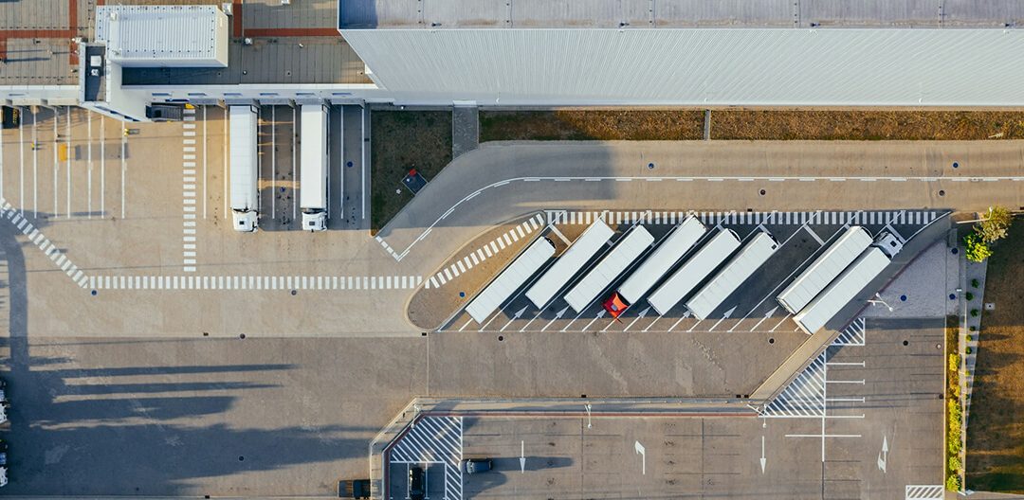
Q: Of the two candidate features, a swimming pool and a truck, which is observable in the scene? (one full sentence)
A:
I can see a truck in this picture.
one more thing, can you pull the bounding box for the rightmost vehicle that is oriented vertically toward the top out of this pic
[301,105,328,234]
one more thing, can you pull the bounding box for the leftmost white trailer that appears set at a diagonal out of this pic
[466,236,556,324]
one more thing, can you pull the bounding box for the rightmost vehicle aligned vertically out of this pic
[410,465,427,499]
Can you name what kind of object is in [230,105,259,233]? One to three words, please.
truck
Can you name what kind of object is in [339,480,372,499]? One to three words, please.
vehicle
